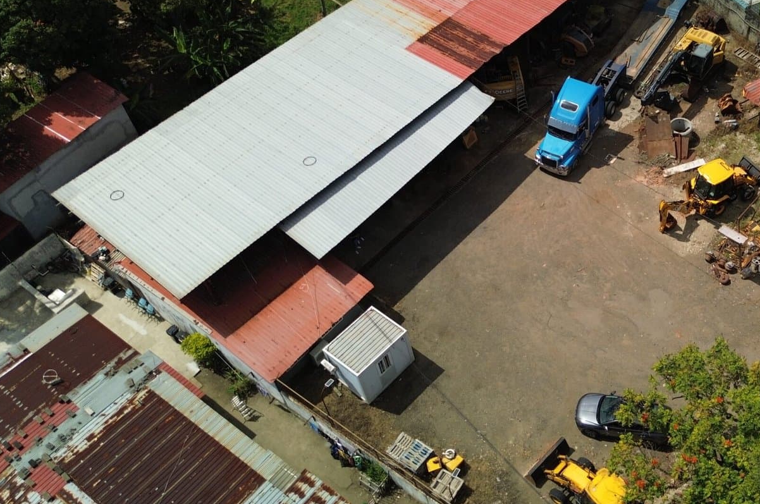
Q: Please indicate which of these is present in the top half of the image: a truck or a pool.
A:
truck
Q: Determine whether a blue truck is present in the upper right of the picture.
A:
Yes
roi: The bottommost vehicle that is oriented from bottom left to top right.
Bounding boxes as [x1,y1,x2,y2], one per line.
[660,151,760,227]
